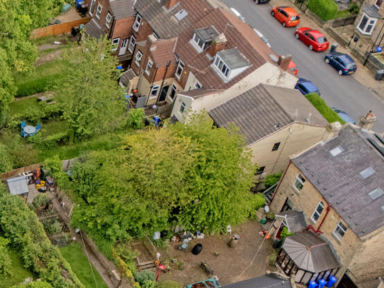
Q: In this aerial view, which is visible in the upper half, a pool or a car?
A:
car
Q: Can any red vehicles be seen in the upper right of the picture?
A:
Yes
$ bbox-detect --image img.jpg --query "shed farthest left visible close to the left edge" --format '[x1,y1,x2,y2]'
[7,177,28,200]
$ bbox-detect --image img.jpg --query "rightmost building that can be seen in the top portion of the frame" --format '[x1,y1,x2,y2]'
[351,0,384,56]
